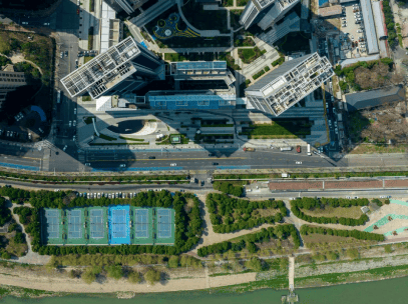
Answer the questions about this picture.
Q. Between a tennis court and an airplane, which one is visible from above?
tennis court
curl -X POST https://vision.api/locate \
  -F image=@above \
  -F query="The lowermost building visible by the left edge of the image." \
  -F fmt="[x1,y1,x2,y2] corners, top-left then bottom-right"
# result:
[0,68,27,125]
